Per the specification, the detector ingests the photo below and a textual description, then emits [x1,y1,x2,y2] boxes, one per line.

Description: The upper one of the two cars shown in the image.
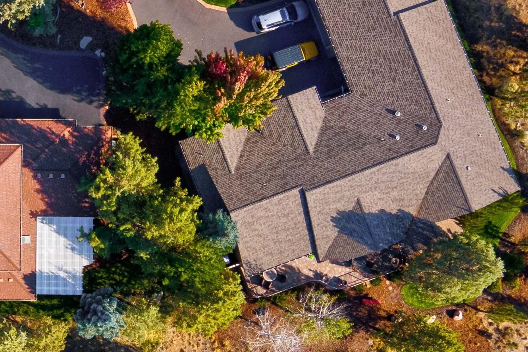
[247,1,307,35]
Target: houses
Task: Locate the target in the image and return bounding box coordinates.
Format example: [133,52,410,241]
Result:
[178,0,521,279]
[0,118,114,301]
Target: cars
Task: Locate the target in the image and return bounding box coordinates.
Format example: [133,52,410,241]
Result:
[265,41,317,73]
[247,1,307,35]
